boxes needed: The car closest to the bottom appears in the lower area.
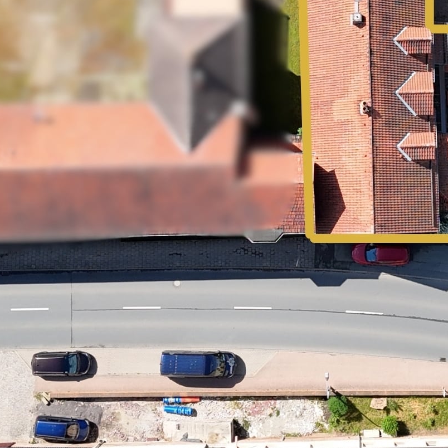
[30,412,95,448]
